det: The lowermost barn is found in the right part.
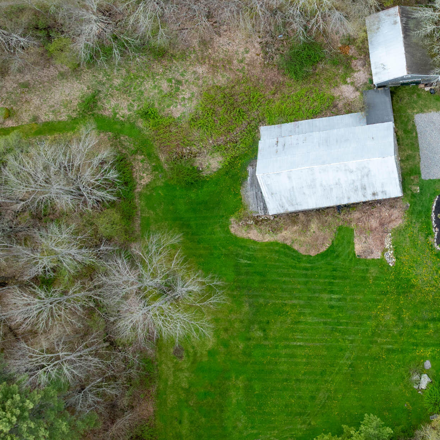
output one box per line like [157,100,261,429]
[256,113,402,214]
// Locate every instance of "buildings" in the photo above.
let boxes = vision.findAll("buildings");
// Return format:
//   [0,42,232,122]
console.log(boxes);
[256,113,402,214]
[365,5,440,88]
